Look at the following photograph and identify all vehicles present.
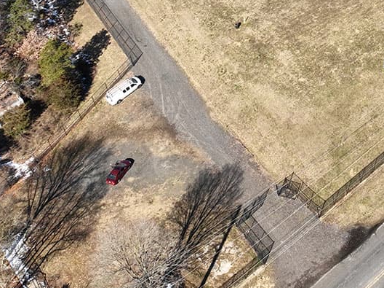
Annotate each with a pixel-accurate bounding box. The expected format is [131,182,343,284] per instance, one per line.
[103,156,137,191]
[100,75,145,112]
